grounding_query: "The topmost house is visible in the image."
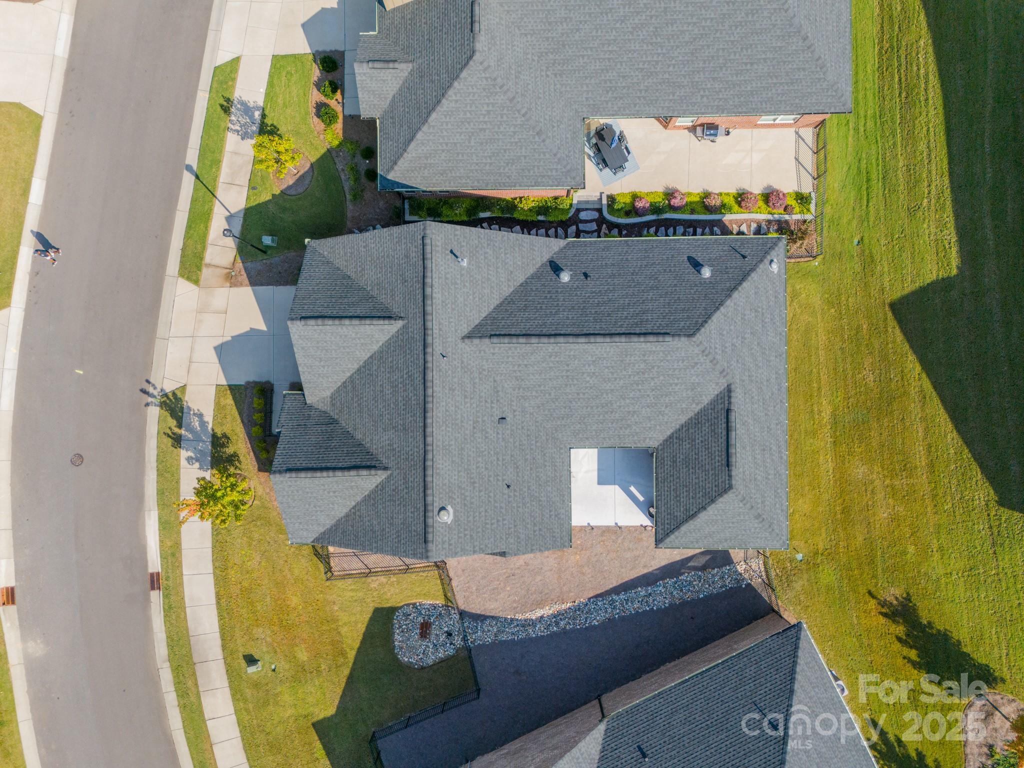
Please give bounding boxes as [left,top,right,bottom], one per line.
[354,0,854,201]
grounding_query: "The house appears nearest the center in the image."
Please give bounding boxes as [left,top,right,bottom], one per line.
[271,222,791,560]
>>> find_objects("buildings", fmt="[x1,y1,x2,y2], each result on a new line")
[354,0,854,201]
[447,611,876,768]
[271,222,791,560]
